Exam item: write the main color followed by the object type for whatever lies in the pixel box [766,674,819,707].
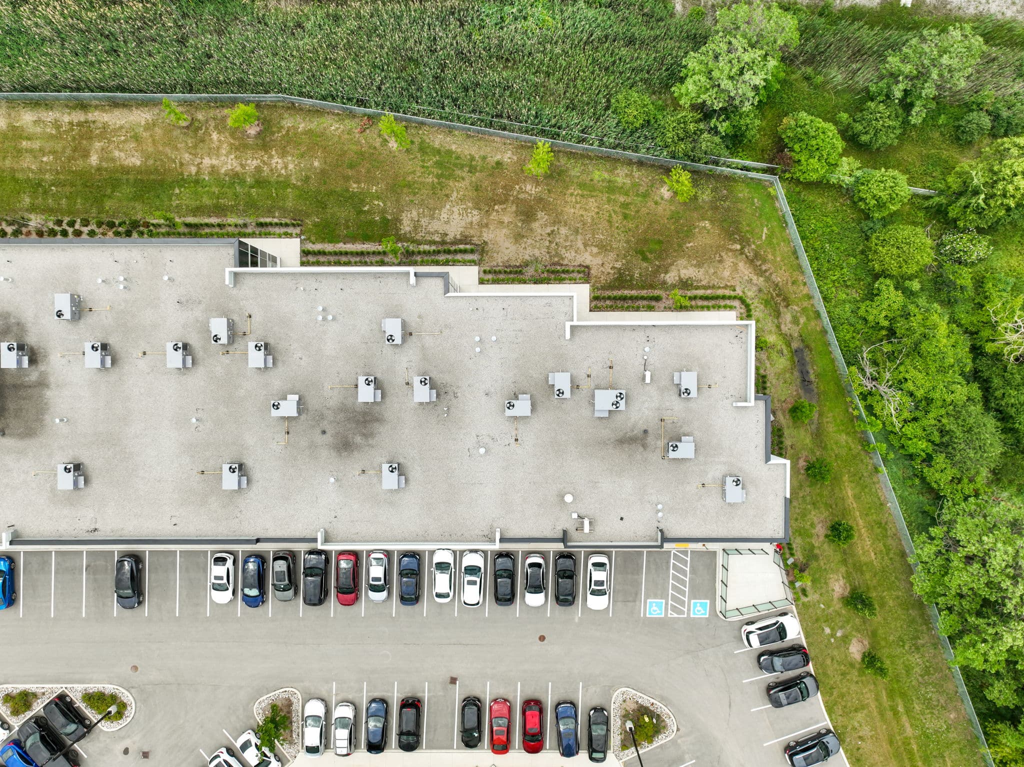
gray car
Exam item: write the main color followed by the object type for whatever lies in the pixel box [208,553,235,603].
white car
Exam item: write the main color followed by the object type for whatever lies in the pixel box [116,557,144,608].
gray car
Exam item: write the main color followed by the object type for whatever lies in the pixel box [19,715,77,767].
gray truck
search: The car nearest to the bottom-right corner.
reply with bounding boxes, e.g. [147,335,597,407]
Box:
[785,730,841,767]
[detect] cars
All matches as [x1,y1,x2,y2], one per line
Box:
[554,552,579,607]
[0,557,17,609]
[488,699,512,755]
[365,551,390,602]
[302,550,328,607]
[459,697,483,747]
[240,556,266,607]
[331,702,357,757]
[587,707,611,763]
[492,552,517,607]
[364,699,389,754]
[334,552,360,606]
[785,730,841,767]
[587,555,611,609]
[396,552,421,606]
[742,616,798,648]
[555,701,580,758]
[521,700,545,753]
[431,549,456,604]
[397,698,422,751]
[758,643,811,676]
[766,674,819,707]
[460,550,485,607]
[43,694,91,741]
[208,553,235,603]
[236,727,281,767]
[302,699,328,757]
[270,551,298,602]
[116,557,144,608]
[523,554,547,606]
